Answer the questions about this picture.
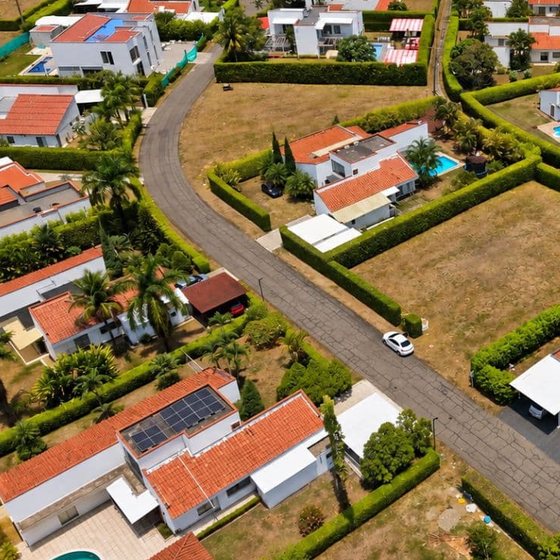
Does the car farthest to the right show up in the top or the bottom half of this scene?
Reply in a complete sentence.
The car farthest to the right is in the bottom half of the image.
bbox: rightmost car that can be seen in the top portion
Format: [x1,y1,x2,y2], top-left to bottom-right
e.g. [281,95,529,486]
[260,178,283,199]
